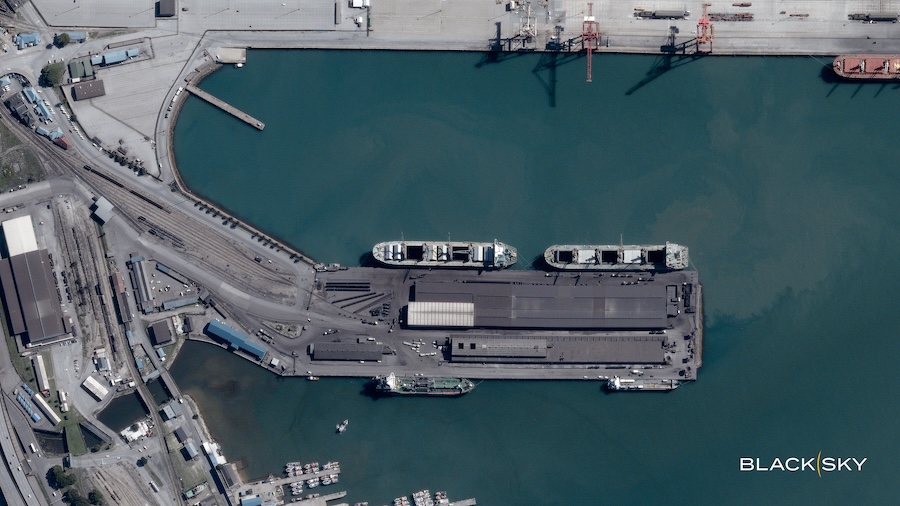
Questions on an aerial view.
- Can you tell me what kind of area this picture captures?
port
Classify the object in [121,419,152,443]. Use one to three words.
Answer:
building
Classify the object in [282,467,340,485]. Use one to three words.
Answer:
pier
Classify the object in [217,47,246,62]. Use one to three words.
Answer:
pier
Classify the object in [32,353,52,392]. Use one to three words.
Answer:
shed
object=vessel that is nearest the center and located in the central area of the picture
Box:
[361,233,527,269]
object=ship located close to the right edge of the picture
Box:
[808,54,900,81]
